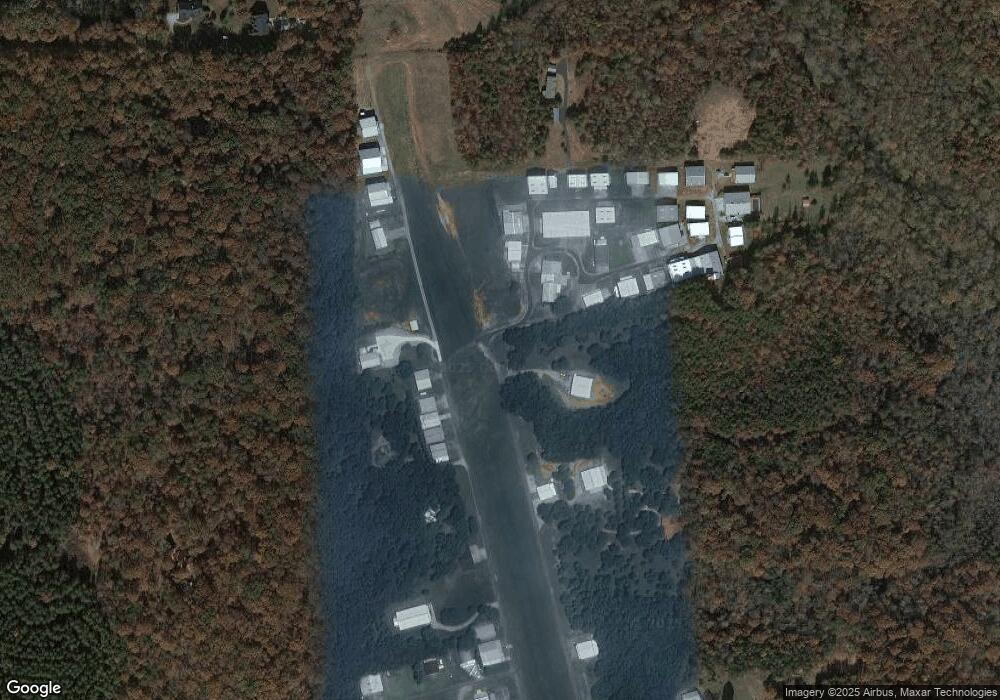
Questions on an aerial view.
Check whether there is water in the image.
No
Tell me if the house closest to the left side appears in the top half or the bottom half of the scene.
top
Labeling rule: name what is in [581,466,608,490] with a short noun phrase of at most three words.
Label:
hangar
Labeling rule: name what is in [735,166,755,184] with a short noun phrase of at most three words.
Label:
house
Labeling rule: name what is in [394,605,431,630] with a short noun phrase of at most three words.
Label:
barn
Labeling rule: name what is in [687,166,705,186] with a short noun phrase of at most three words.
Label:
hangar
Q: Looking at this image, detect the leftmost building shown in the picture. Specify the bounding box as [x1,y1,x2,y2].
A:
[179,1,206,21]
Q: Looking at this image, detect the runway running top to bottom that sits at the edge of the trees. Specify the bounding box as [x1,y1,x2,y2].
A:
[378,63,577,700]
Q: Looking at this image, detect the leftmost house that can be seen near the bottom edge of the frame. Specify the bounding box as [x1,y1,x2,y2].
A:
[360,675,383,695]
